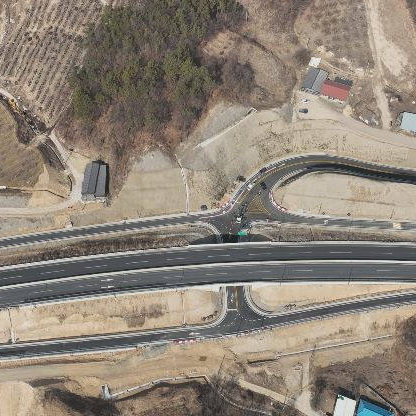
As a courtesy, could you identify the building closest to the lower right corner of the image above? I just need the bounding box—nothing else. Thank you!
[353,399,393,416]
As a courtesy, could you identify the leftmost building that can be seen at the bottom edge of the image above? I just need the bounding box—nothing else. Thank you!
[332,395,355,416]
